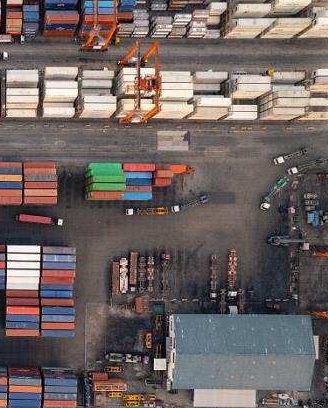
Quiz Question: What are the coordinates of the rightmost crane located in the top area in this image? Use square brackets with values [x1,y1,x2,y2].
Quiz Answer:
[120,42,162,124]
